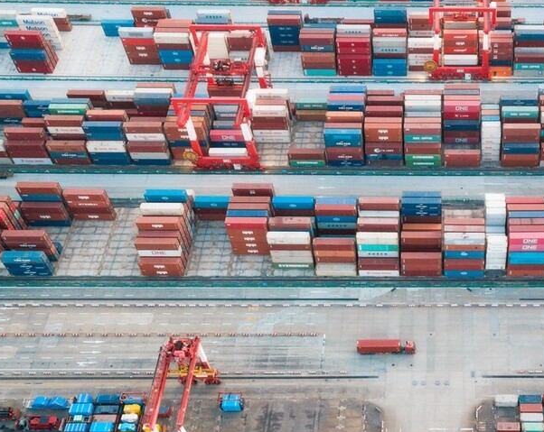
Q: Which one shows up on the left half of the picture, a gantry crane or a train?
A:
gantry crane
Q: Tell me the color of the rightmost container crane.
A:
red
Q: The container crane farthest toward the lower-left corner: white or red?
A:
red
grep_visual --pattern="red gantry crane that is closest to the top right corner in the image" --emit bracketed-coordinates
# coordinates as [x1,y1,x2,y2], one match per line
[423,0,496,77]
